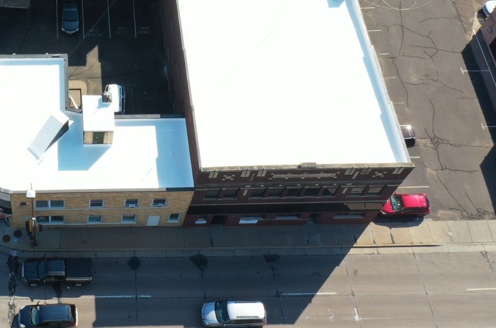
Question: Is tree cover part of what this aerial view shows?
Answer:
No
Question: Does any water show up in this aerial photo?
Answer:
No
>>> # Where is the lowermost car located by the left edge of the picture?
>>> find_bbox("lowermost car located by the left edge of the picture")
[15,300,81,328]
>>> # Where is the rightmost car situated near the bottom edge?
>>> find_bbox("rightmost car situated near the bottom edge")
[199,298,271,328]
